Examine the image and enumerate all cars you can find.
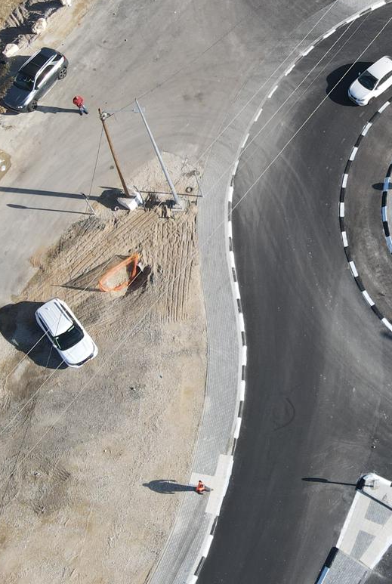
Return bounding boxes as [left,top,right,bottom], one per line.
[0,46,66,114]
[33,296,103,369]
[346,52,392,105]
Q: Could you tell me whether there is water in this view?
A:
No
